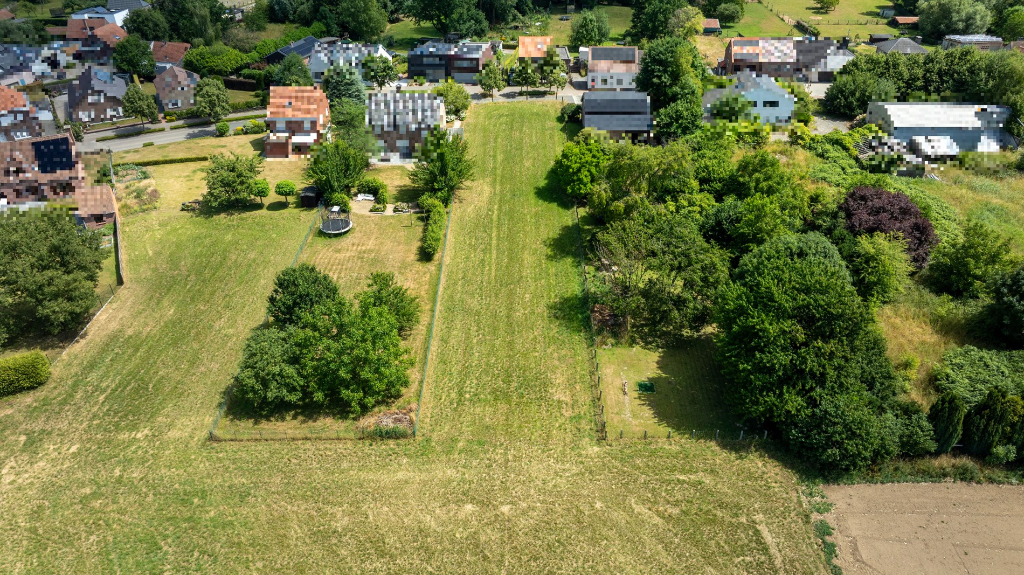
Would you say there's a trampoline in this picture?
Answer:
Yes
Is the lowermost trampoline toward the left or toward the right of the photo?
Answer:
left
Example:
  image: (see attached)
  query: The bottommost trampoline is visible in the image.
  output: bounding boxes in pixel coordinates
[315,203,353,238]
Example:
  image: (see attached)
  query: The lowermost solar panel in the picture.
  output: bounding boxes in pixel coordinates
[31,129,78,168]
